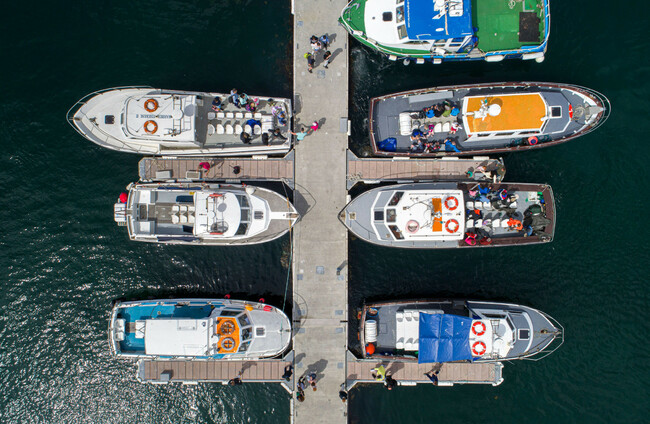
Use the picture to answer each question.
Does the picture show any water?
Yes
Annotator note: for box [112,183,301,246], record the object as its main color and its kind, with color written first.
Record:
white boat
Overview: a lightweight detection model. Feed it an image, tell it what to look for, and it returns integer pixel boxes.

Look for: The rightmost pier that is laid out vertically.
[291,0,350,424]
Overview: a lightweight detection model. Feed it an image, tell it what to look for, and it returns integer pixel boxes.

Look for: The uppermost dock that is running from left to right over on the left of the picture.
[138,152,293,189]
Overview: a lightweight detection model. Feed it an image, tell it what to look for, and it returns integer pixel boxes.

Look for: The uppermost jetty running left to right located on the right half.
[348,152,500,189]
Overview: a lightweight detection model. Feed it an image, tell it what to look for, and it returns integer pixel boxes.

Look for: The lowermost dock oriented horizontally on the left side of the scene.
[137,352,293,392]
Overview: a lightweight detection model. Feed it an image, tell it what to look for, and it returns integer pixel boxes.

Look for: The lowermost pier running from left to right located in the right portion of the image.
[348,353,500,392]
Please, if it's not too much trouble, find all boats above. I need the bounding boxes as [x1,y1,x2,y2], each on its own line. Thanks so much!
[369,83,610,157]
[358,298,564,362]
[337,182,558,248]
[337,0,550,63]
[108,297,293,361]
[112,183,301,246]
[66,84,293,157]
